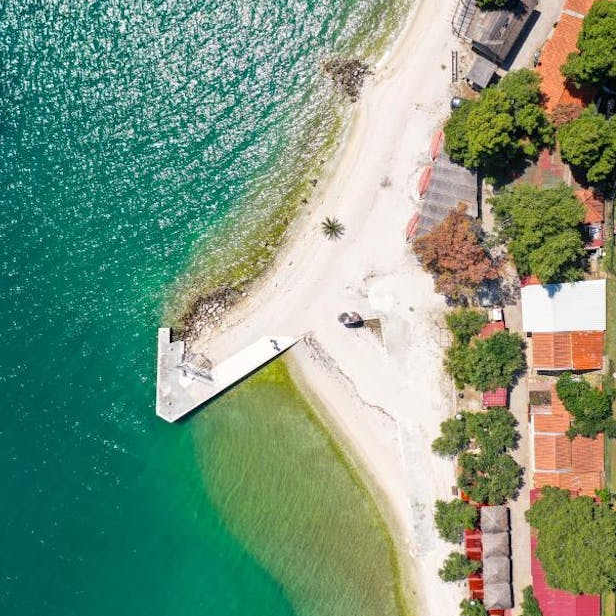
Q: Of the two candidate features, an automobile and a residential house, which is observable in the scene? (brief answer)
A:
residential house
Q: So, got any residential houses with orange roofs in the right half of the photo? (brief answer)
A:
Yes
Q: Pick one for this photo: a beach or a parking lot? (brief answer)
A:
beach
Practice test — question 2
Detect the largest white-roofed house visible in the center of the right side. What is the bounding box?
[521,280,606,332]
